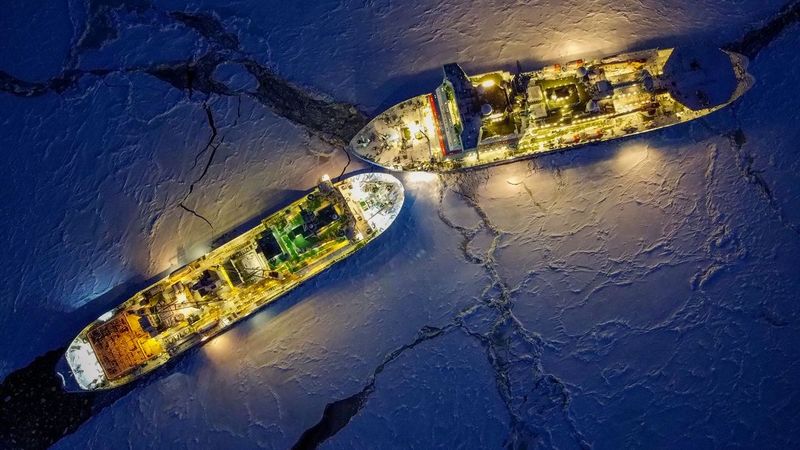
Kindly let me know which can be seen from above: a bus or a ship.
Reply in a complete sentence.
It is a ship that can be seen here.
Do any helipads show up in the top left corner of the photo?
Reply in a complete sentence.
No, there is no helipad in the top left corner of the photo.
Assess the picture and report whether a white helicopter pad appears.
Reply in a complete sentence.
No, there appears to be no white helicopter pad in this shot.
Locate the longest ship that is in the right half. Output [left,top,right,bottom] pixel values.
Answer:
[348,45,756,176]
